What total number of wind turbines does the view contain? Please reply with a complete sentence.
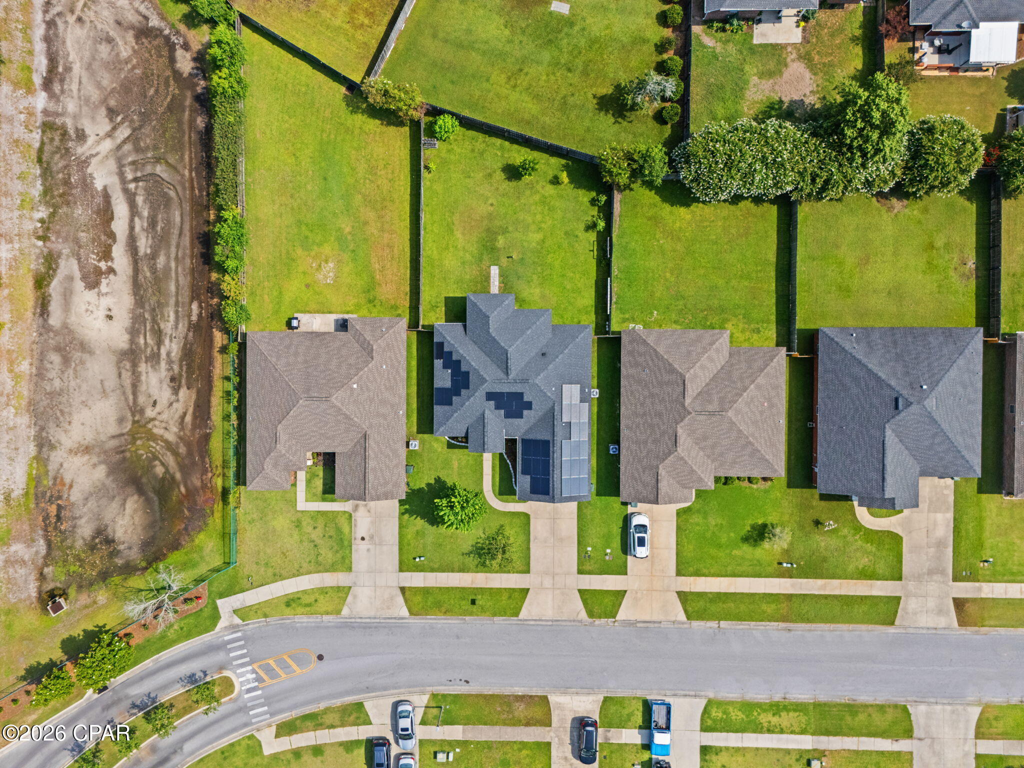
The picture shows no wind turbines.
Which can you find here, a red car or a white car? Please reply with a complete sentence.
It is a white car that can be seen here.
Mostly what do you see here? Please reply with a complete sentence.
Most of the picture is covered by grass.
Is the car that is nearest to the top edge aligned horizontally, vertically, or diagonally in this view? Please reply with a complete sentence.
The car that is nearest to the top edge has been laid out vertically relative to the frame.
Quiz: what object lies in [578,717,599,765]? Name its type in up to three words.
car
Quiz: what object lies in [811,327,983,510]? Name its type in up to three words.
house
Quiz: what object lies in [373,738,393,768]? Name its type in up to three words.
car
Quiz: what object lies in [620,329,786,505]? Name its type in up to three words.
house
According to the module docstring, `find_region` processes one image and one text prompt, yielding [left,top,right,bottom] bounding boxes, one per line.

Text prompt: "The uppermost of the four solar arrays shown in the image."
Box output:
[434,342,469,405]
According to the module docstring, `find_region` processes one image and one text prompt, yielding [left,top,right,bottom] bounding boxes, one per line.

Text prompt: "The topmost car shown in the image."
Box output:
[630,513,651,558]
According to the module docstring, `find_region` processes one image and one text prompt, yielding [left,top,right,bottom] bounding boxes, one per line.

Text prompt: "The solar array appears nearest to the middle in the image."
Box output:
[486,392,532,419]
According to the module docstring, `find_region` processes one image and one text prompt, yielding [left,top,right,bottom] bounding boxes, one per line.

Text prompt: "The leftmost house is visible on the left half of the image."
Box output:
[246,317,407,501]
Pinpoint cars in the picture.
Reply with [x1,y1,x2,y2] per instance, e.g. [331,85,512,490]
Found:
[398,755,417,768]
[578,717,599,765]
[396,700,417,750]
[630,513,651,558]
[373,738,393,768]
